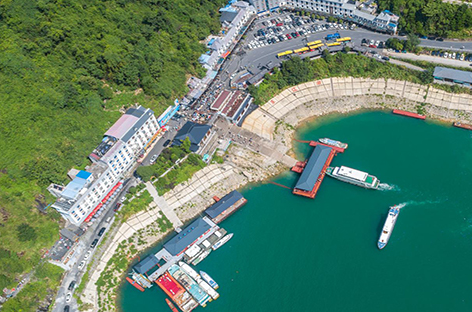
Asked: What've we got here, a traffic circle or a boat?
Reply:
boat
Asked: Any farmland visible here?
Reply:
No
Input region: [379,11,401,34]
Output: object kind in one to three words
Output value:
house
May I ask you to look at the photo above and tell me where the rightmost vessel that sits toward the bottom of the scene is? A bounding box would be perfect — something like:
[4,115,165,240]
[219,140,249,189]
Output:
[380,204,401,249]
